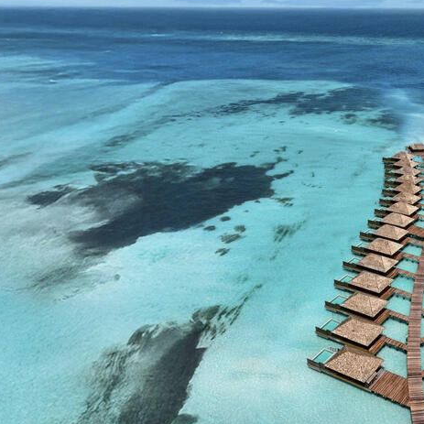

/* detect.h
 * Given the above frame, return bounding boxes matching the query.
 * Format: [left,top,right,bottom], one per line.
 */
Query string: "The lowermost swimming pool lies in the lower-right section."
[310,346,337,365]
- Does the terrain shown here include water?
Yes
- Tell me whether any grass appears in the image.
No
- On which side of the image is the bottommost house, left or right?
right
